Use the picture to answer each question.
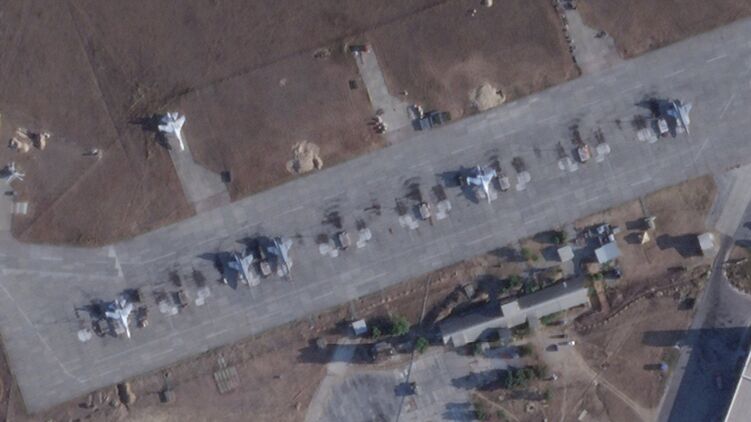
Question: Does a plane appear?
Yes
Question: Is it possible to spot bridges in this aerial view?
No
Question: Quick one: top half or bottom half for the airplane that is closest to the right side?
top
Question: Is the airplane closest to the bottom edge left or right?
left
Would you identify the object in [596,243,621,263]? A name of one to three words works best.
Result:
building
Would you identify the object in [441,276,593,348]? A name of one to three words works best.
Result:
building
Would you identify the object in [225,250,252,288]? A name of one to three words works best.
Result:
airplane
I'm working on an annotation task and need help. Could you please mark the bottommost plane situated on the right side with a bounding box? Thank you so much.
[467,164,495,203]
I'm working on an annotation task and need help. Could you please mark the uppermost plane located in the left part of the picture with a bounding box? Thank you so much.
[158,112,186,150]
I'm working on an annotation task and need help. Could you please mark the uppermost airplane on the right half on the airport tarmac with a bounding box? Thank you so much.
[664,97,691,135]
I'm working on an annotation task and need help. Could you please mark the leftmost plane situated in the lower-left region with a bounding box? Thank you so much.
[105,299,133,338]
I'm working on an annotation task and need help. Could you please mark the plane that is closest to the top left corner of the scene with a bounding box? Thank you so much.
[2,164,25,181]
